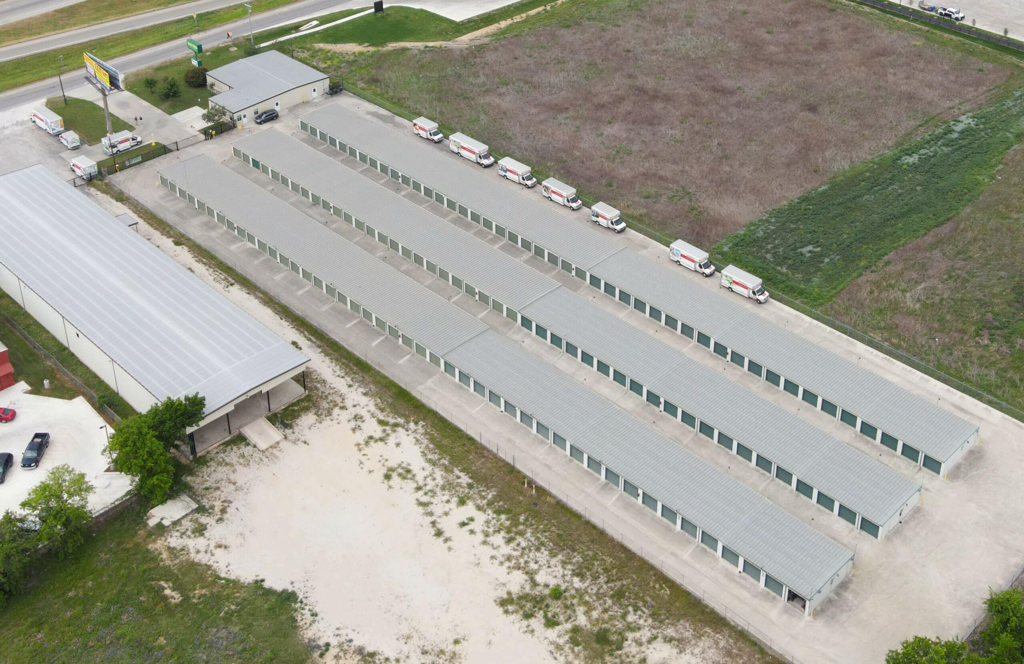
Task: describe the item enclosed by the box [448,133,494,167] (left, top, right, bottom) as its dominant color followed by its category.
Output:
white truck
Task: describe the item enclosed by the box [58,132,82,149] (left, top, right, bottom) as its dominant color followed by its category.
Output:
white vehicle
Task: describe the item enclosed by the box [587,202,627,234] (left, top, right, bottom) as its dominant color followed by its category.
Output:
white truck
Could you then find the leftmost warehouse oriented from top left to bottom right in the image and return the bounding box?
[0,165,313,456]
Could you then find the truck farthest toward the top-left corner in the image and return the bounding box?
[31,105,64,134]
